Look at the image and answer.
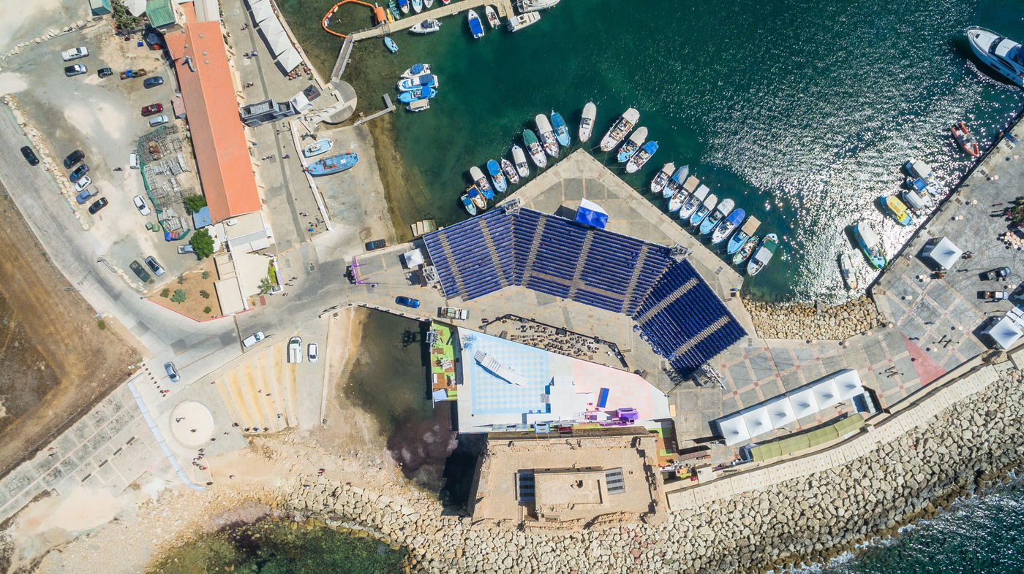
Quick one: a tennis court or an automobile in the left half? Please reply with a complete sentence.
What appears in the left half is an automobile.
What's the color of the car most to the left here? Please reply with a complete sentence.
The color of the car most to the left is black.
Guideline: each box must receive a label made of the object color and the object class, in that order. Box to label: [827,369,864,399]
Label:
white tent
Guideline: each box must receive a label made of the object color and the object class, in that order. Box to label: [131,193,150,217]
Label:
white car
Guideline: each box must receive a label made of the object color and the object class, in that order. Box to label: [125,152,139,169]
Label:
white vehicle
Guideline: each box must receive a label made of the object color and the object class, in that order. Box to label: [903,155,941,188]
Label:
white boat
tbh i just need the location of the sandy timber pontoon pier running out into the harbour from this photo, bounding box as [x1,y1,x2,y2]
[352,0,514,42]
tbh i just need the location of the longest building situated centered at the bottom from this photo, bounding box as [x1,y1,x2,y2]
[471,428,666,525]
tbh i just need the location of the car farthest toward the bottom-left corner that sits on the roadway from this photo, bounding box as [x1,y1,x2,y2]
[162,360,179,384]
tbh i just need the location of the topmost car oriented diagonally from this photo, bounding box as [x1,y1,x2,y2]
[143,29,162,53]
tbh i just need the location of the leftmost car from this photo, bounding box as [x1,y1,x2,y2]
[17,144,38,166]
